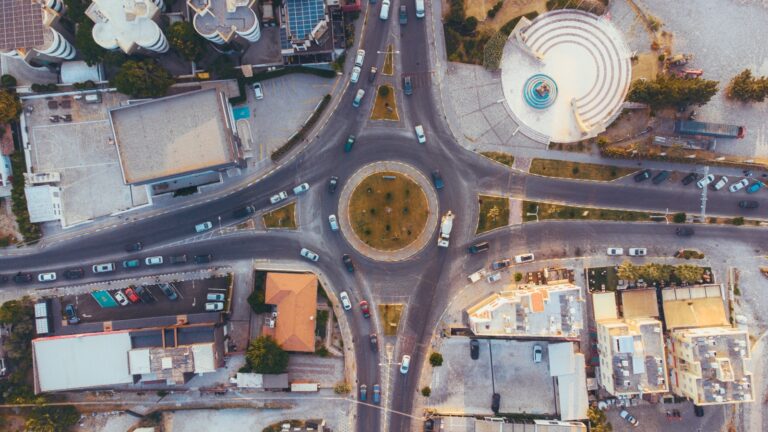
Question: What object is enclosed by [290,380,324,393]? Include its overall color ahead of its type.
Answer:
white vehicle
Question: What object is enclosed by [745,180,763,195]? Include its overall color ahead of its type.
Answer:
blue car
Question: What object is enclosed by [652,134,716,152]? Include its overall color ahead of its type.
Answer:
gray trailer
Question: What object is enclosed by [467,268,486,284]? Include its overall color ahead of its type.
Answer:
white vehicle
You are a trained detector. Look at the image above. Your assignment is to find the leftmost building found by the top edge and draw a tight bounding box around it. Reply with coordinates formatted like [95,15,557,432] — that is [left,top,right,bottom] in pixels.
[0,0,82,68]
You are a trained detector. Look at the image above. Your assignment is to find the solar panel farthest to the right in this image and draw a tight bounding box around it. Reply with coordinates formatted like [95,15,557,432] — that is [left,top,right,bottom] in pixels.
[289,0,325,38]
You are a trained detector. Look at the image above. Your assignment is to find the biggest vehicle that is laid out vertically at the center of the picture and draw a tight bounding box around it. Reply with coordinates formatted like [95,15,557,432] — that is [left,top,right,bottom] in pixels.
[438,212,454,248]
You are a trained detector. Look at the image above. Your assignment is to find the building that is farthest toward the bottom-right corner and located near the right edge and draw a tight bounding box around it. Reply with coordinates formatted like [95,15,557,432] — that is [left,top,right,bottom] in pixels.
[674,326,756,406]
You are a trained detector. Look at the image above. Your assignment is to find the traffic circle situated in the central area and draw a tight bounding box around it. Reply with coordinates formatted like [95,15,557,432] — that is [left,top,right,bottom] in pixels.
[338,161,439,261]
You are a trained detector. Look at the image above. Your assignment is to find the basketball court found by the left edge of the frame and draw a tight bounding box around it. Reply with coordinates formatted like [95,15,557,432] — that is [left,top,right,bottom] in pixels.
[32,119,119,170]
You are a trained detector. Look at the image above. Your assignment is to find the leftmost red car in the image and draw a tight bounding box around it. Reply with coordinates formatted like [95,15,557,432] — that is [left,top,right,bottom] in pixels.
[125,287,140,303]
